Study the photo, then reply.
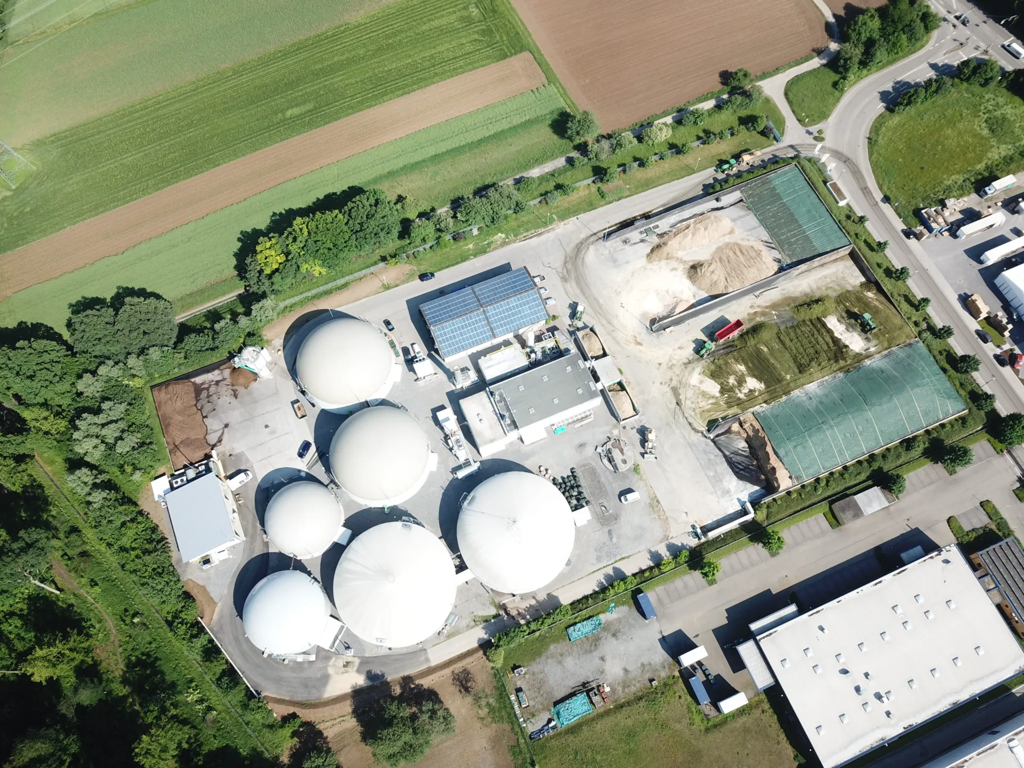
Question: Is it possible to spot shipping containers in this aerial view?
Yes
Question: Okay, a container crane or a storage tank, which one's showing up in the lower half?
storage tank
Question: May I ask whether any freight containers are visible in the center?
Yes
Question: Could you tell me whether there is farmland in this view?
Yes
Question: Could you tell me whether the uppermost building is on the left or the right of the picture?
right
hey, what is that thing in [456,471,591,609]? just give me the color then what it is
white storage tank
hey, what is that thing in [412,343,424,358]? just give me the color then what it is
white vehicle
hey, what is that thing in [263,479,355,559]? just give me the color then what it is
white storage tank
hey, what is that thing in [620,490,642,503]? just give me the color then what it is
white vehicle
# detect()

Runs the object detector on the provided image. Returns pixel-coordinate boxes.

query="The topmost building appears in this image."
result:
[824,180,849,207]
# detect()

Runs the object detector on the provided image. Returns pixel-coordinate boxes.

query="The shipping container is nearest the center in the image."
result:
[436,408,475,466]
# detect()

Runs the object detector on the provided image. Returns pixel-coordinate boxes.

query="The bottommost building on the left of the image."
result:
[165,472,245,565]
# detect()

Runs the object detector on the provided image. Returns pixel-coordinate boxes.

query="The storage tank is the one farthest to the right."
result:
[596,436,633,471]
